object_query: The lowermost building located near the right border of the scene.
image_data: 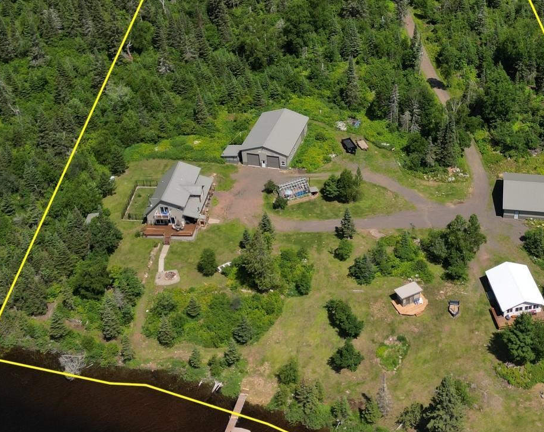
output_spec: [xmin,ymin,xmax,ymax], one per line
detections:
[486,266,544,316]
